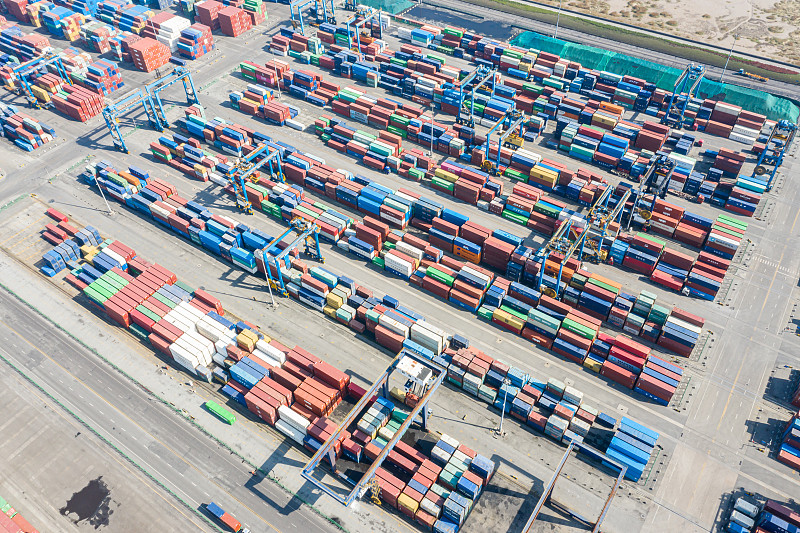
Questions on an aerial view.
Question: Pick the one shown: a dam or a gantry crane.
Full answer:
The one in the frame is a gantry crane.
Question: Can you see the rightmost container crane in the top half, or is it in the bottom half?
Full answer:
Seen from above, the rightmost container crane lies in the top half of the view.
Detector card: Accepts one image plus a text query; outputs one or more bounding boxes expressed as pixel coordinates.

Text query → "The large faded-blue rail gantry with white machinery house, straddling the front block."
[298,350,446,510]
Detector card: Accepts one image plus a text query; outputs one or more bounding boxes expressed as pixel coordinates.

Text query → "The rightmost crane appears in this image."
[752,119,799,191]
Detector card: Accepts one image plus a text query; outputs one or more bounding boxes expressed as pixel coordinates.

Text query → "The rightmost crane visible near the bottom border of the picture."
[519,442,628,533]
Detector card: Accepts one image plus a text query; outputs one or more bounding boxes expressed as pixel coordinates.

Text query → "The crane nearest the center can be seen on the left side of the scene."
[259,216,328,301]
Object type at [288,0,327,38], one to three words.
container crane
